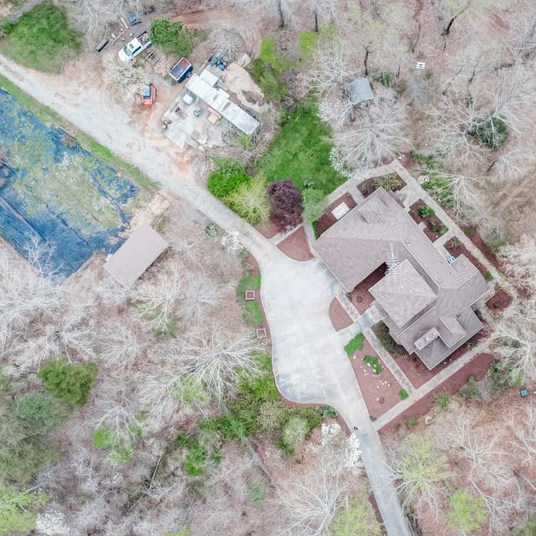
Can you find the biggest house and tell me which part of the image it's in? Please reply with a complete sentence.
The biggest house appears toward the right of the photo.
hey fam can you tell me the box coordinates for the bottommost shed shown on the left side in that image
[103,226,170,287]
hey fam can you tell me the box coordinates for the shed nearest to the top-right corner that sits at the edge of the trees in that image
[349,79,373,108]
